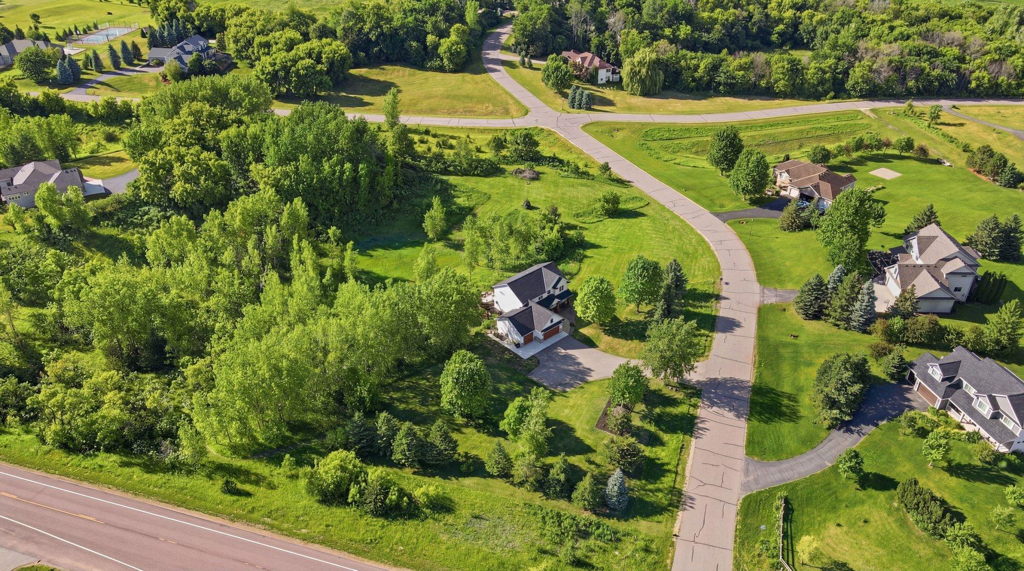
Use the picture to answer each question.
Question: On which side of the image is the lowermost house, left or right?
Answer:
right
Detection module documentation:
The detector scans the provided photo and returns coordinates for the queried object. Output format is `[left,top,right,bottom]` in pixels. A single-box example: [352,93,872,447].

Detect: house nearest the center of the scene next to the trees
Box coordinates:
[493,262,574,346]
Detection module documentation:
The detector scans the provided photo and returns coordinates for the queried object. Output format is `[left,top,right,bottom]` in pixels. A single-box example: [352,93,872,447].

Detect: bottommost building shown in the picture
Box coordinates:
[904,344,1024,461]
